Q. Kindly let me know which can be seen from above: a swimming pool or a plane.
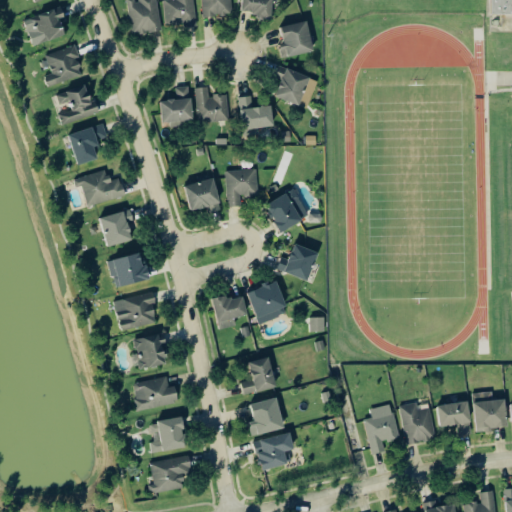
swimming pool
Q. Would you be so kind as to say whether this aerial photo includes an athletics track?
Yes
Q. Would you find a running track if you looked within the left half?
No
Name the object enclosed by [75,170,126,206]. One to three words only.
house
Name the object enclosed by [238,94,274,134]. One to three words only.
house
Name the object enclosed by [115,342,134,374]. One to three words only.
swimming pool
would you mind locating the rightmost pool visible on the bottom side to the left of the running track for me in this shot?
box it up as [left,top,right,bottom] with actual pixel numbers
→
[260,316,292,340]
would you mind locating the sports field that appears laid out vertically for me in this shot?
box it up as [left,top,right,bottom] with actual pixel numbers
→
[367,84,466,300]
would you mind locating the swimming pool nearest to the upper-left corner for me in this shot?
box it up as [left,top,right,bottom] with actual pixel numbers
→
[67,180,87,211]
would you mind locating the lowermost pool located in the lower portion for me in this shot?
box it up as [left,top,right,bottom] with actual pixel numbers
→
[132,436,145,456]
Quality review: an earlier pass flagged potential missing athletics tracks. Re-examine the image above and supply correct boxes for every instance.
[344,24,490,360]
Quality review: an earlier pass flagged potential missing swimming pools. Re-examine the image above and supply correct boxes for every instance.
[115,342,134,374]
[260,316,292,340]
[132,436,145,456]
[295,181,319,210]
[67,180,87,211]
